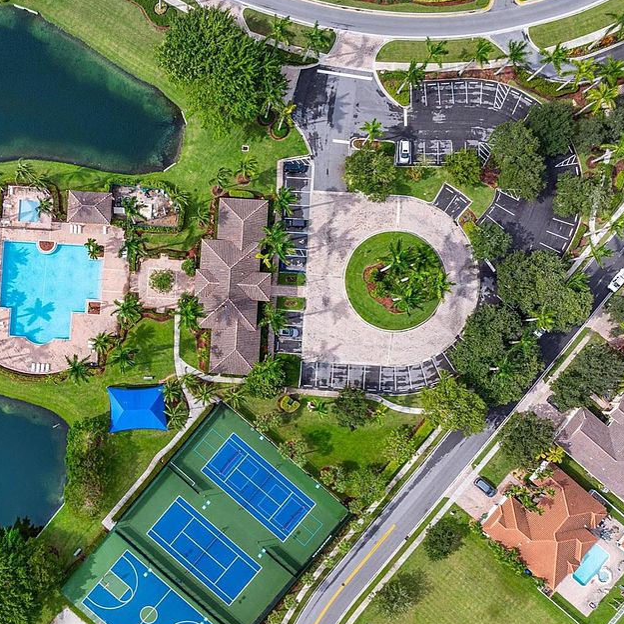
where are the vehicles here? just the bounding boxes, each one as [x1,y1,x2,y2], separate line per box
[608,272,624,294]
[400,141,411,163]
[285,218,308,229]
[285,161,308,172]
[530,324,552,341]
[278,328,300,337]
[476,477,498,498]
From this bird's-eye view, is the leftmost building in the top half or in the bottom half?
top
